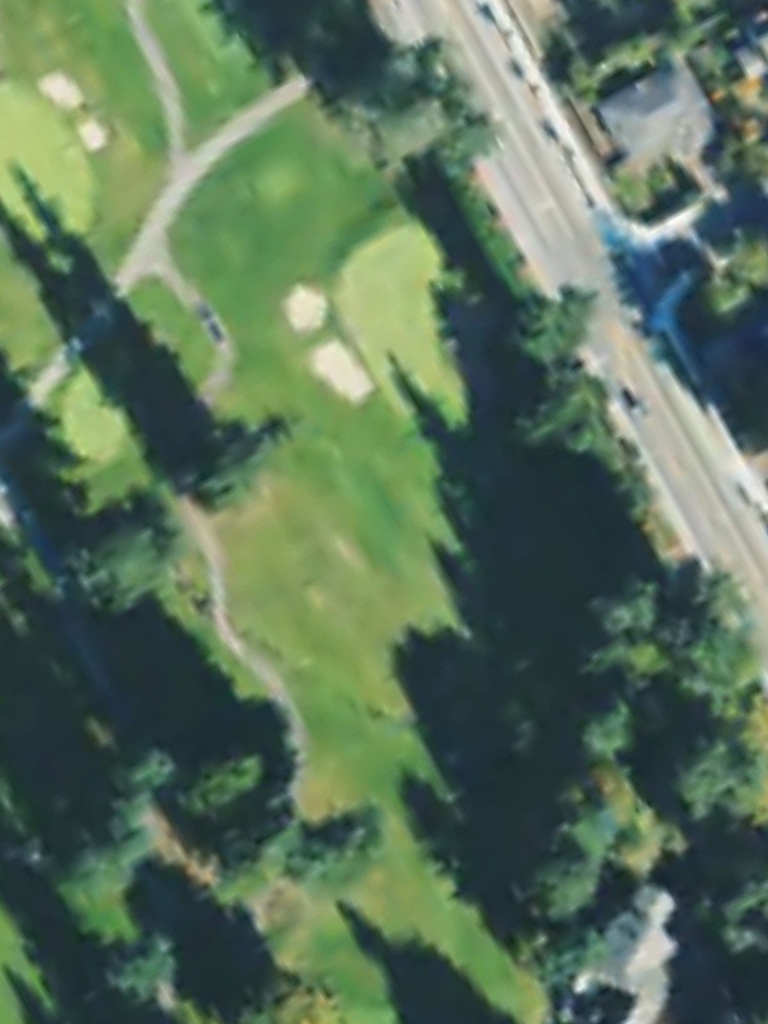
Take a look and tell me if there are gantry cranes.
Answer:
No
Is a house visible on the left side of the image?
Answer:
No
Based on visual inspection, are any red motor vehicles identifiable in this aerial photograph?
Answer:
No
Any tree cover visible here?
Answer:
Yes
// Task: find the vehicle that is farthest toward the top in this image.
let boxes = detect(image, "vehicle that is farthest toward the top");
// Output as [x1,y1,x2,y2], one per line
[482,3,498,23]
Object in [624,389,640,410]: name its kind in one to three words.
car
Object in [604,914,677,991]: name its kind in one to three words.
house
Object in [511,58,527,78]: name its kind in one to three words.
car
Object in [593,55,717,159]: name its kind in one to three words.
house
